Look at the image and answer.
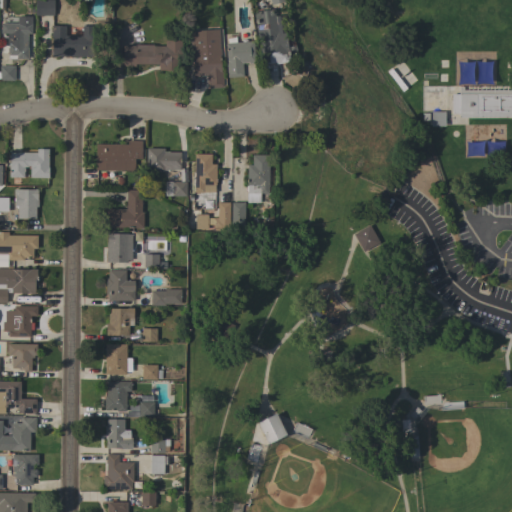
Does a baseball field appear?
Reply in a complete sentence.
Yes, a baseball field can be made out from above.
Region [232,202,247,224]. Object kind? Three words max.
building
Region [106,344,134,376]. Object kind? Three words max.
house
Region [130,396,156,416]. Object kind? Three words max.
building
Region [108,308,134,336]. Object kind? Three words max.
house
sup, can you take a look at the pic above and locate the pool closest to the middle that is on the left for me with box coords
[142,276,164,288]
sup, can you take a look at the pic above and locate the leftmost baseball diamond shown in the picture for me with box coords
[262,438,400,512]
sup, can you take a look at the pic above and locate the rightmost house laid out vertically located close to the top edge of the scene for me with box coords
[268,9,290,62]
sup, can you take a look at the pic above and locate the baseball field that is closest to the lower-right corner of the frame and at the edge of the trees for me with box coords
[422,409,512,512]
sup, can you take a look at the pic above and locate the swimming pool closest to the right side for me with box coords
[239,7,251,29]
